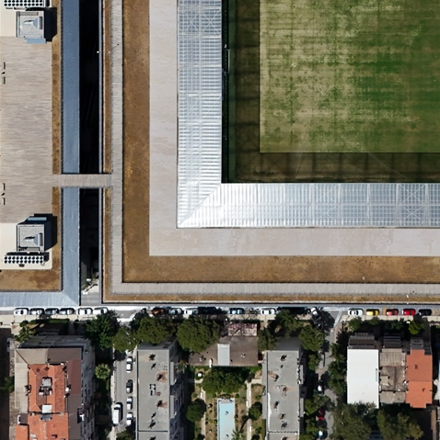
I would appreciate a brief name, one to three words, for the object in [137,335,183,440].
building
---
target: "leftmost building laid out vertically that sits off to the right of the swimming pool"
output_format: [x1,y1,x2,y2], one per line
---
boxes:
[266,335,307,440]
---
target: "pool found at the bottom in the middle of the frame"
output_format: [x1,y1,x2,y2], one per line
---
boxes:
[217,399,235,440]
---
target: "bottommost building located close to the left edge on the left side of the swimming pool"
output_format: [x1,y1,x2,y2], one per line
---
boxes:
[14,333,97,440]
